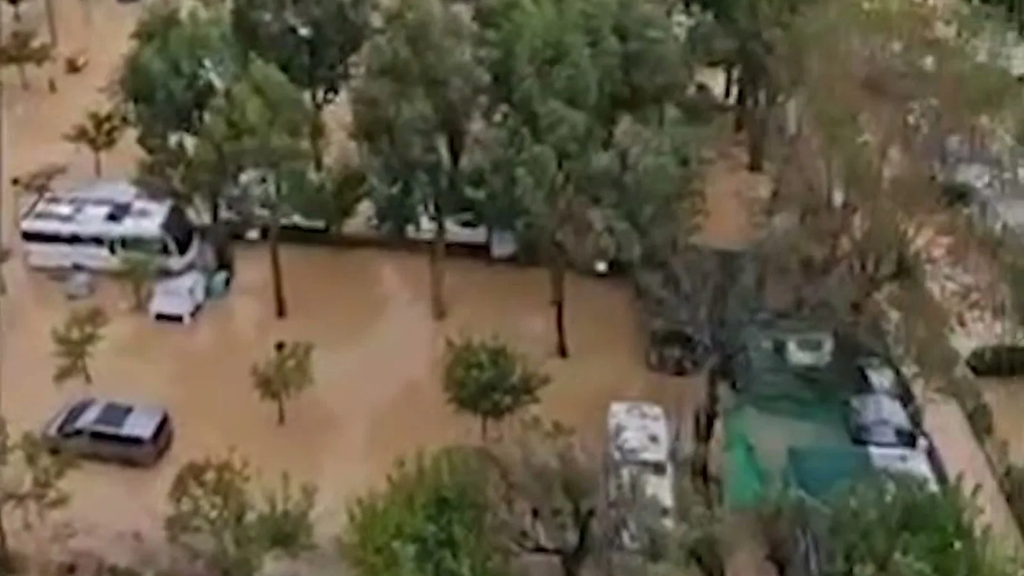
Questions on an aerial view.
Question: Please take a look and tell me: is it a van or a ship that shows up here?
van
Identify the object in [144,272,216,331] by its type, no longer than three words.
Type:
van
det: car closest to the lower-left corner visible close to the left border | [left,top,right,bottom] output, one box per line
[44,395,177,460]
